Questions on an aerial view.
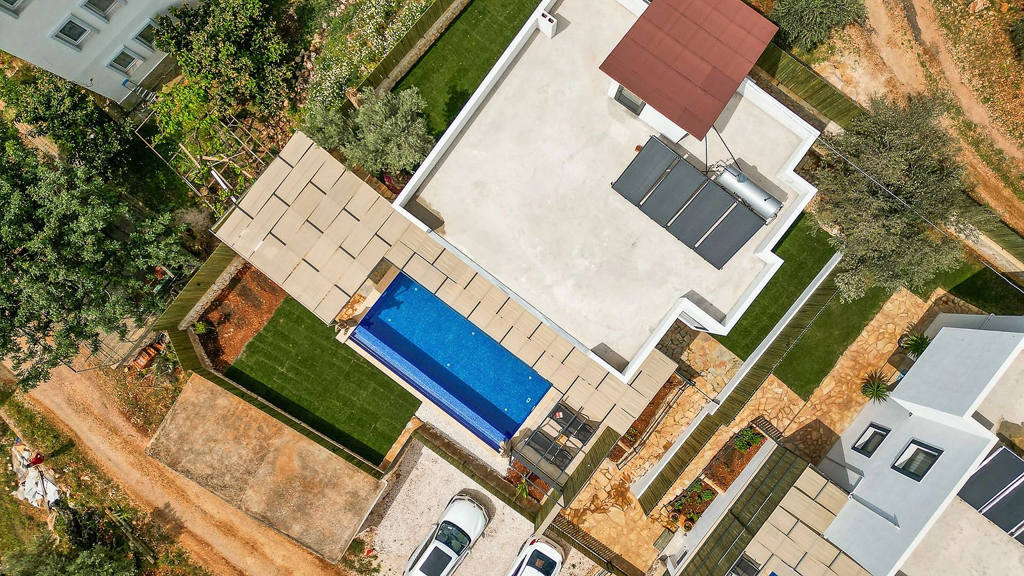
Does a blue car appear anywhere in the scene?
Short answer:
No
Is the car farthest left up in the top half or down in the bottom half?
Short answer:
bottom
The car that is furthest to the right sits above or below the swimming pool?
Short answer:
below it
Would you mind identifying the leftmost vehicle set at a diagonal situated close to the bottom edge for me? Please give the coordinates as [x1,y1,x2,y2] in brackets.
[402,493,492,576]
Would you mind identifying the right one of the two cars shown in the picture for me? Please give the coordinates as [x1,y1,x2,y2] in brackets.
[507,536,568,576]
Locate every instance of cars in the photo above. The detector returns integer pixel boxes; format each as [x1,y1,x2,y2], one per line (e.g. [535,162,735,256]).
[402,493,492,576]
[507,536,568,576]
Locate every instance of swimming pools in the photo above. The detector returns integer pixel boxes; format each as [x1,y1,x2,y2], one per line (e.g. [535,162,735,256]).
[330,265,561,463]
